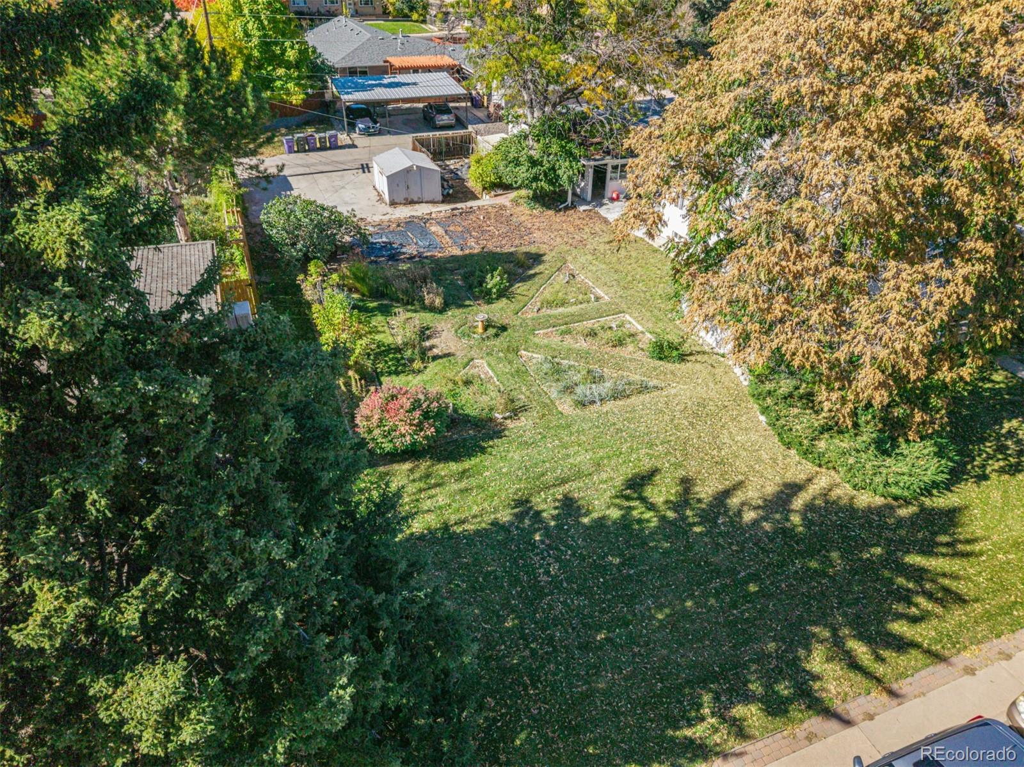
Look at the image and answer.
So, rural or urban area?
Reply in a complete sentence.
The area is rural.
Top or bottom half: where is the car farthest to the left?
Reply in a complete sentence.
You can find the car farthest to the left in the top half.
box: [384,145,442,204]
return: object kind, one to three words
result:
shed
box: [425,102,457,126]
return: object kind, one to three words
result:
car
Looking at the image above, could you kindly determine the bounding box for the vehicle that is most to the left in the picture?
[351,105,381,133]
